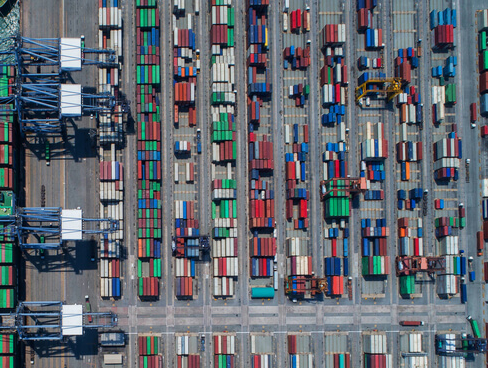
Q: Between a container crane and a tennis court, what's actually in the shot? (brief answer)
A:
container crane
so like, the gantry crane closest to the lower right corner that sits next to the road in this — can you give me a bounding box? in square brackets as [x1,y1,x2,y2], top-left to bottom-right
[433,333,488,355]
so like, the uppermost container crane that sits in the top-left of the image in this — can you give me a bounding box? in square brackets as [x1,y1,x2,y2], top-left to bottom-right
[0,34,115,101]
